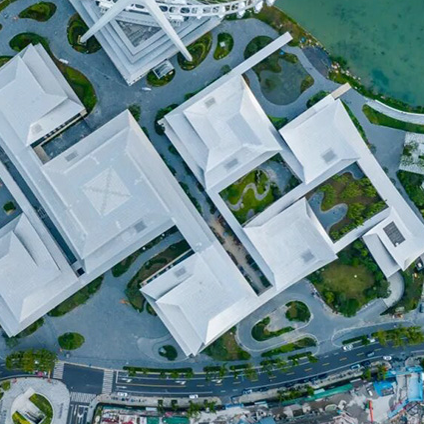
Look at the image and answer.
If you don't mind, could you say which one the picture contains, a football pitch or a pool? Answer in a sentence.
The one in the frame is a pool.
